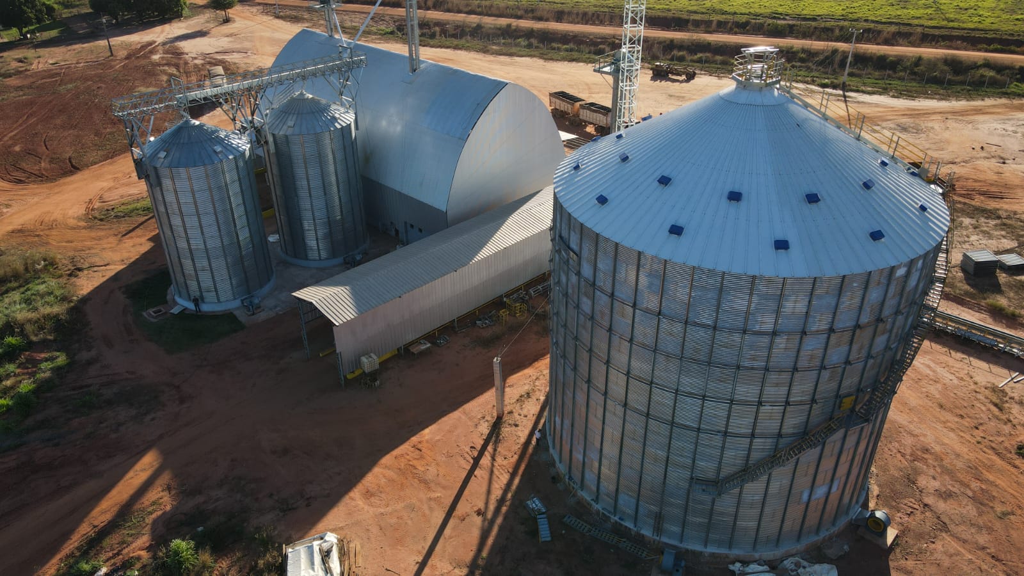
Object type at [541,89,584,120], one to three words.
trailer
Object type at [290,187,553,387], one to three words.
shed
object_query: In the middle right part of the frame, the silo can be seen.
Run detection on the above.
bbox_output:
[541,49,962,566]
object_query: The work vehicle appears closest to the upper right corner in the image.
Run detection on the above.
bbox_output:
[653,60,701,80]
